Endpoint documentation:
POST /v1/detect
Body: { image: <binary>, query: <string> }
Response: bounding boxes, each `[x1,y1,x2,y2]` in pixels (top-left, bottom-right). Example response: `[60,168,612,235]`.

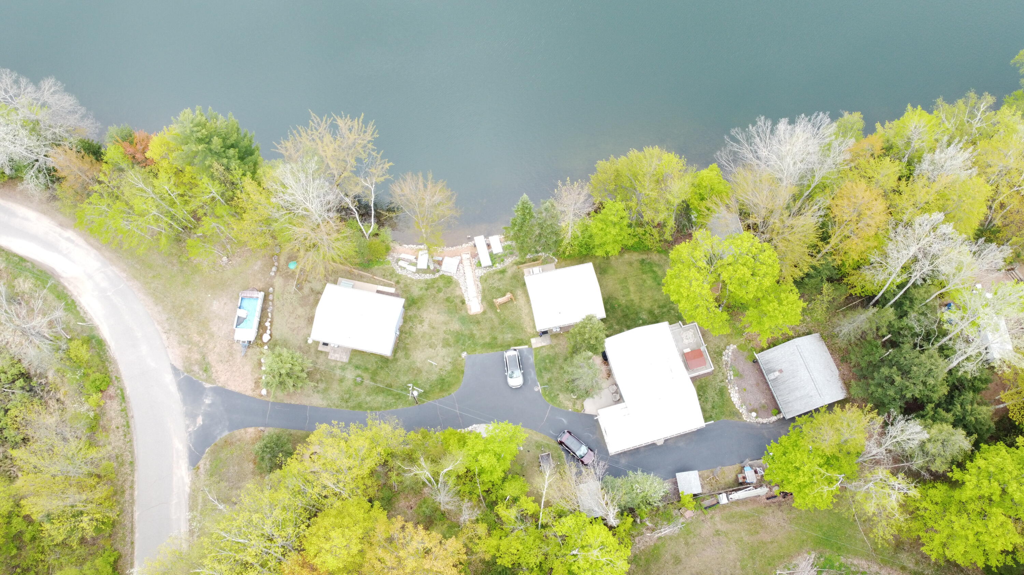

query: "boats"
[232,286,264,344]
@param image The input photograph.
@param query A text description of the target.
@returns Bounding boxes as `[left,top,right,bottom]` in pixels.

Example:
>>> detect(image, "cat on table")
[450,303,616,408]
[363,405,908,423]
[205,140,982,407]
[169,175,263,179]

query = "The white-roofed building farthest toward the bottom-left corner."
[308,283,407,359]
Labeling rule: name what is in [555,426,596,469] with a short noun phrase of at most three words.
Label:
car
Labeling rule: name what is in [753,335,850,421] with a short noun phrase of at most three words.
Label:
building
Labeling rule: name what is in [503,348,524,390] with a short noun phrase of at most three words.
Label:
car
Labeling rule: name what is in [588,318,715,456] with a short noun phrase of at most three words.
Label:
house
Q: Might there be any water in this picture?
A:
Yes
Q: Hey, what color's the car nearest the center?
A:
white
